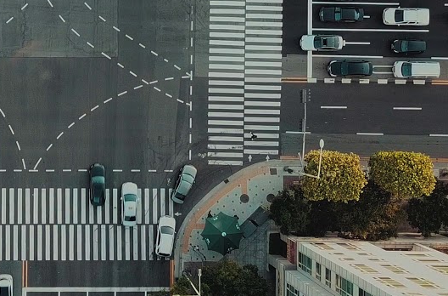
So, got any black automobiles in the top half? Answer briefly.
Yes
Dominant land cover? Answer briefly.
paved ground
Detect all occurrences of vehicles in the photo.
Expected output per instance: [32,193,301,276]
[155,213,177,257]
[278,167,297,173]
[318,5,365,24]
[0,273,13,296]
[381,6,430,27]
[392,59,445,80]
[171,163,197,205]
[298,33,345,52]
[120,181,140,226]
[87,162,106,206]
[326,58,373,79]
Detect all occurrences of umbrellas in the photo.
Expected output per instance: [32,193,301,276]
[200,209,244,255]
